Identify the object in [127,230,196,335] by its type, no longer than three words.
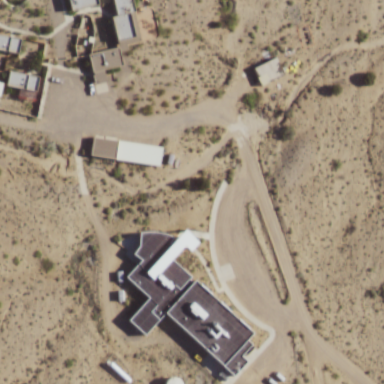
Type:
building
